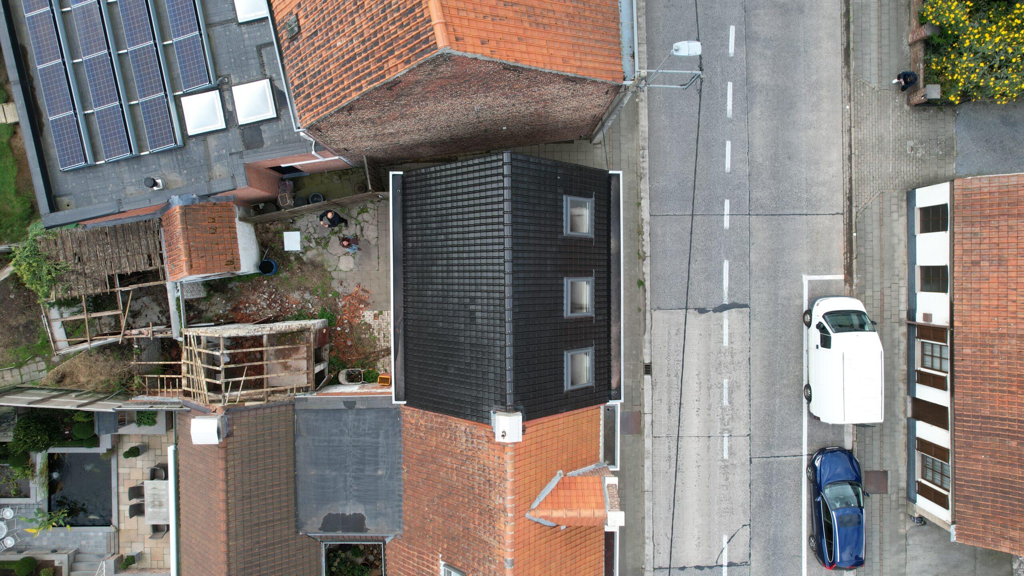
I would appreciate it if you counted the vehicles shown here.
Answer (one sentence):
Altogether the scene contains 2 vehicles.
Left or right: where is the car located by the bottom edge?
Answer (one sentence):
It is on the right.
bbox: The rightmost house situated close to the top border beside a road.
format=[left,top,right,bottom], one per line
[262,0,637,170]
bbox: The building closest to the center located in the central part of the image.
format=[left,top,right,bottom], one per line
[390,147,624,427]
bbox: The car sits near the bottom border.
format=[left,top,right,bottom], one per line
[806,444,873,571]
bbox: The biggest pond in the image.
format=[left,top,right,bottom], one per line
[29,444,125,532]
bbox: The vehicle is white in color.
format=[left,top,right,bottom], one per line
[802,296,881,424]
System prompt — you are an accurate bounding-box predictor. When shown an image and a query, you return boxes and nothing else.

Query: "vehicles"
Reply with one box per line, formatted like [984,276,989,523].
[806,444,873,571]
[802,296,881,424]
